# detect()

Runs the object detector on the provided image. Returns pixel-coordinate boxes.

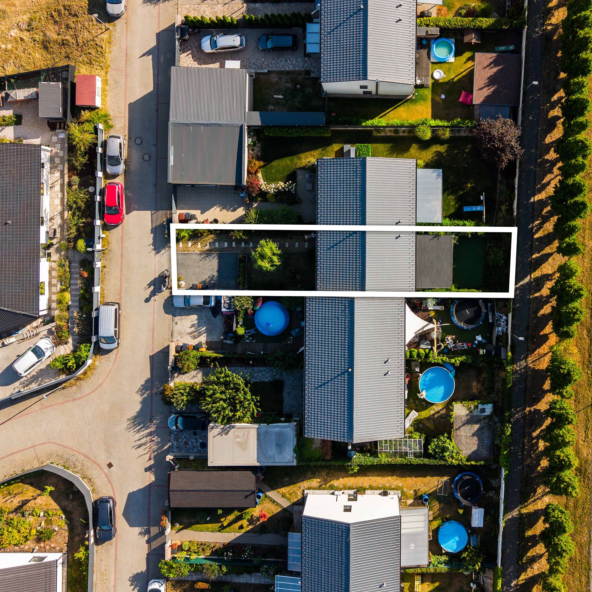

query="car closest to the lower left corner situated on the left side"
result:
[95,495,119,546]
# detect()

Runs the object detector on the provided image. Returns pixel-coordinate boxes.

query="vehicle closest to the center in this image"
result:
[173,288,216,308]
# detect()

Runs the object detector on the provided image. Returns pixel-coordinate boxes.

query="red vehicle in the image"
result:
[102,182,126,225]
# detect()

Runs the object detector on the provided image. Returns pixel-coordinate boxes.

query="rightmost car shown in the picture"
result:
[259,32,299,53]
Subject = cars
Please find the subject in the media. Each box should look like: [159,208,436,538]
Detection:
[146,577,167,592]
[13,337,57,377]
[202,32,247,55]
[102,182,126,225]
[104,134,127,176]
[259,32,299,53]
[173,288,216,308]
[95,495,119,546]
[104,0,128,18]
[168,412,209,433]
